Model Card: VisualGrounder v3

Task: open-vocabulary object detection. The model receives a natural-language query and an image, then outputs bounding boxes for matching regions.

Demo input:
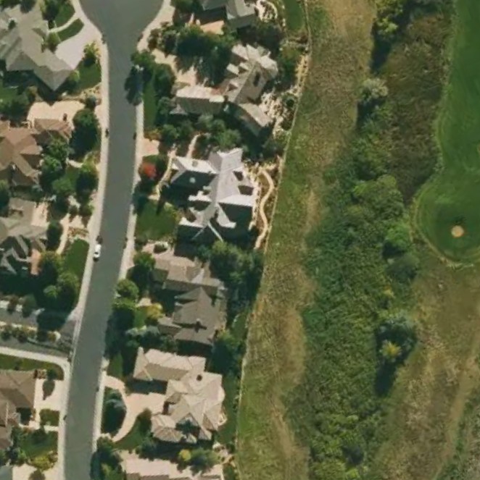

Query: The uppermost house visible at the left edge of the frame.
[0,0,70,92]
